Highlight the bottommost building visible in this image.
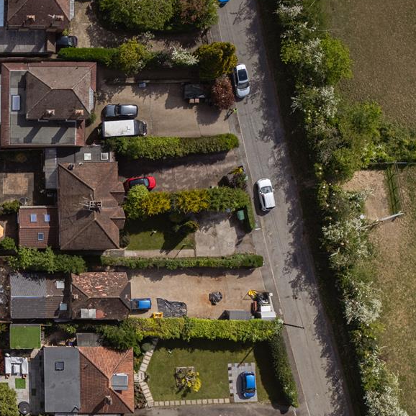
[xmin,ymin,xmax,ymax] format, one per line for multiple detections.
[38,343,134,416]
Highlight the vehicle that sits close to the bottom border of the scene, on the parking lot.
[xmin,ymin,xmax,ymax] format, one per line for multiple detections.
[238,370,256,400]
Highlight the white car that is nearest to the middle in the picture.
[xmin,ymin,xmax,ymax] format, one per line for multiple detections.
[254,178,276,213]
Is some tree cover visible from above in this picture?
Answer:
Yes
